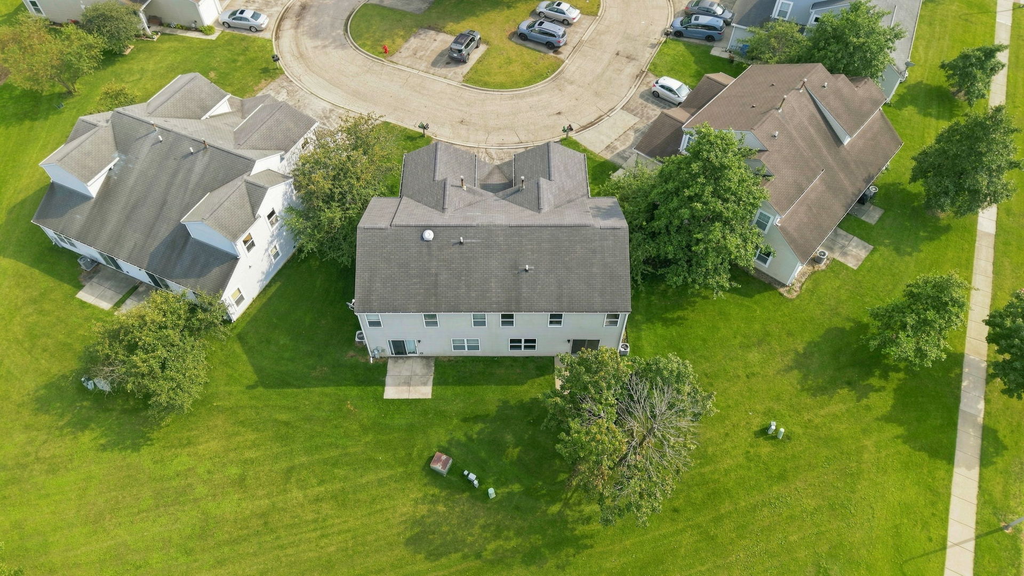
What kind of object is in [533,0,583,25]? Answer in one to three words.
car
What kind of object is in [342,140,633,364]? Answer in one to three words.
house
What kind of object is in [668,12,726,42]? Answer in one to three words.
car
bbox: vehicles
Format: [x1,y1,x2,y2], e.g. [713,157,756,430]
[668,12,726,42]
[690,0,736,25]
[647,72,694,105]
[446,31,482,65]
[515,17,569,50]
[216,6,268,31]
[533,0,583,25]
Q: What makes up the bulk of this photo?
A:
grass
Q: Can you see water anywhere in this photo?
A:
No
